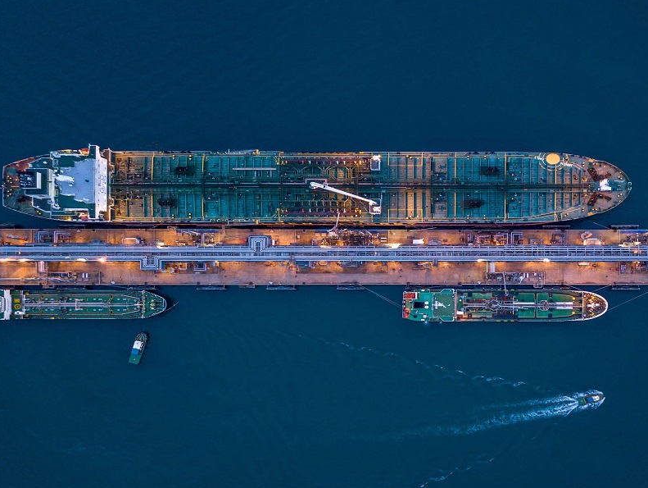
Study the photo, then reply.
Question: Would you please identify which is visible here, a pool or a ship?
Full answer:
It is a ship that can be seen here.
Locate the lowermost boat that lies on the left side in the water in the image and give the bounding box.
[128,333,145,365]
